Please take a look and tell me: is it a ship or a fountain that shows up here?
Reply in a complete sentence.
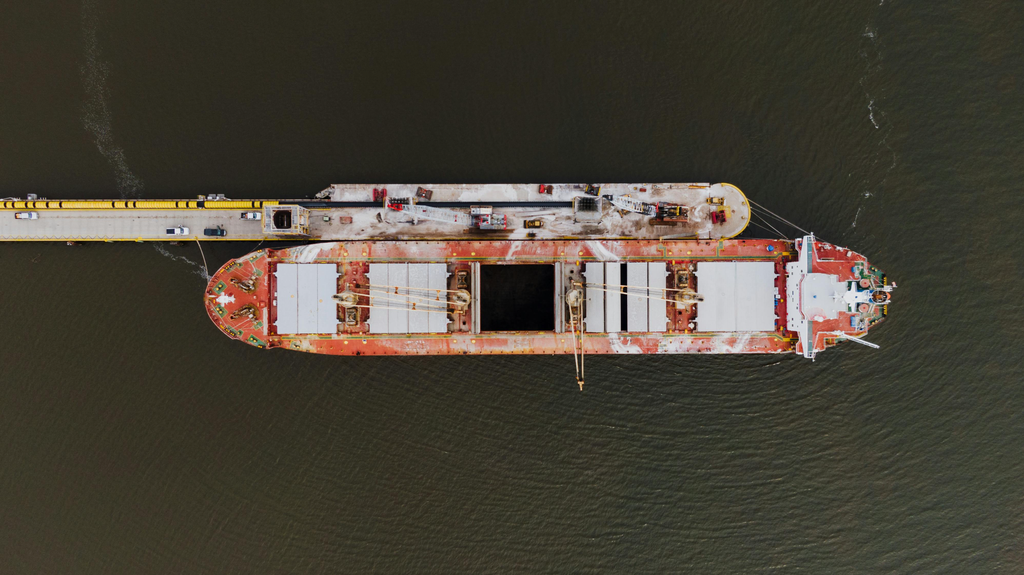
Visible in the photo is a ship.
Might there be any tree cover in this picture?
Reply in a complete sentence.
No, no tree cover is visible.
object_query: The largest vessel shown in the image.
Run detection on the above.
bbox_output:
[205,232,893,390]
